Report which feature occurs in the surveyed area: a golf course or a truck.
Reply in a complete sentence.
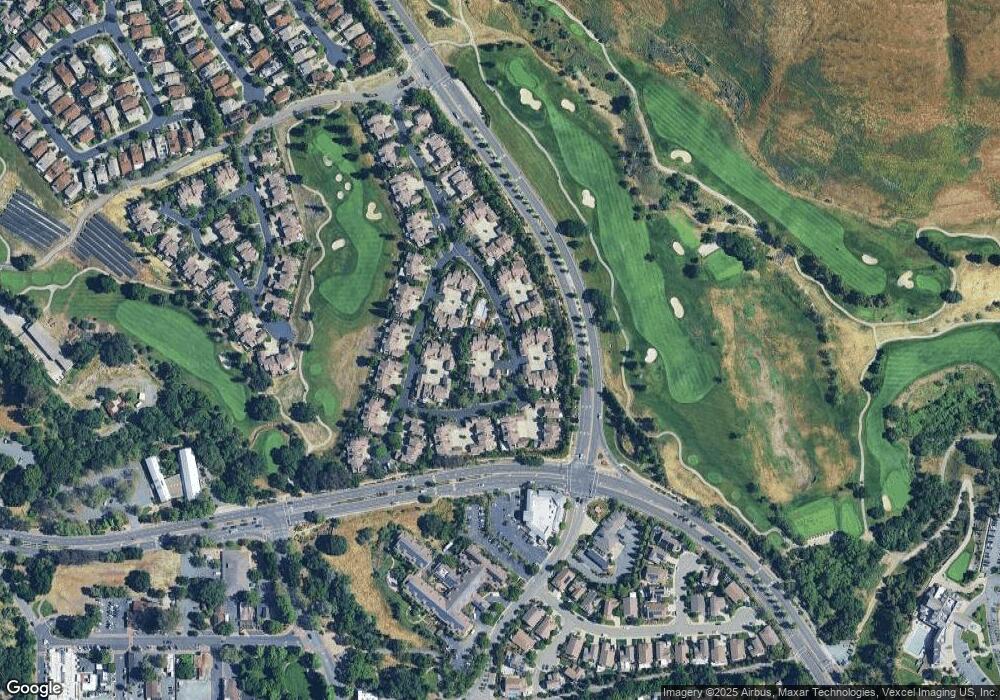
It is a golf course that can be seen here.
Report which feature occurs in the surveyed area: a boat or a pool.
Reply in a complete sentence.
I can see a pool in this picture.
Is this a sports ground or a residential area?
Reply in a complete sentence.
The picture captures a residential area.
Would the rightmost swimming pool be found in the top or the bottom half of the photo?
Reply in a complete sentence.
The rightmost swimming pool sits in the bottom half of the picture.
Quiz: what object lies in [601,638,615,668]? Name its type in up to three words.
house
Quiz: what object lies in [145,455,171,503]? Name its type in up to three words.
shed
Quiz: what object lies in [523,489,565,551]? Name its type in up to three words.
building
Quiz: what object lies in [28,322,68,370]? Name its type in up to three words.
barn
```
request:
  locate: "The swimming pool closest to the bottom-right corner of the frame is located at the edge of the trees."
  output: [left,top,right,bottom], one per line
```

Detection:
[906,620,931,656]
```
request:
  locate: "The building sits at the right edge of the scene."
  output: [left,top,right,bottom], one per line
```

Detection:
[919,587,959,666]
